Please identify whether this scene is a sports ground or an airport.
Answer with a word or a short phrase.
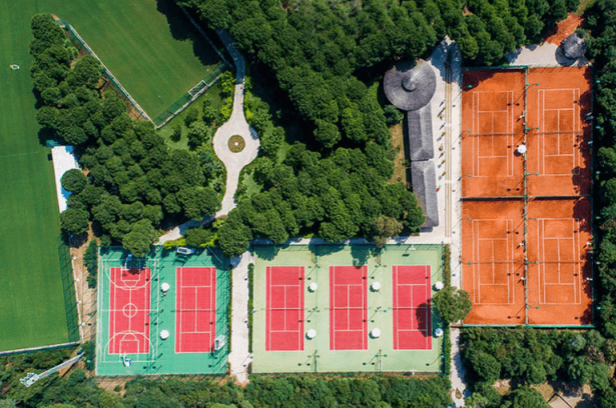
sports ground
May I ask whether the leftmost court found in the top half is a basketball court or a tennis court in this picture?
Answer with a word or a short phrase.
tennis court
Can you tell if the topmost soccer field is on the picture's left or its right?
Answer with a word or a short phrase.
left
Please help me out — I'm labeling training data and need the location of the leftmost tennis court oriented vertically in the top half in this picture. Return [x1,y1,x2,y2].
[461,67,525,197]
